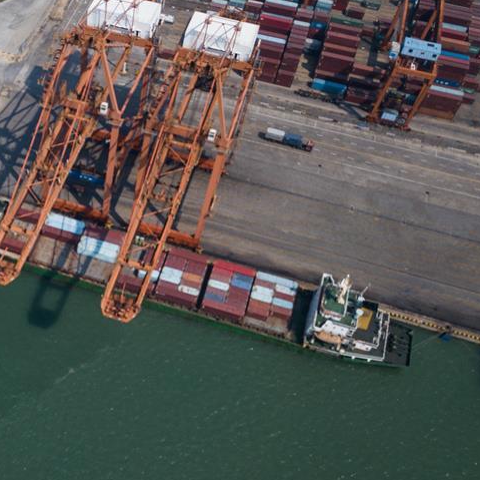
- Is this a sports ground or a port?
port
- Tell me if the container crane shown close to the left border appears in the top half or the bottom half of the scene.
top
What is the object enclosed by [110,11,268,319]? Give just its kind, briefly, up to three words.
container crane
